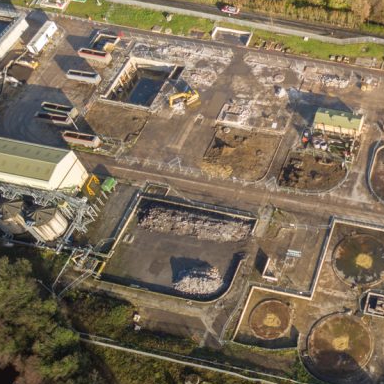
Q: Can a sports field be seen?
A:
No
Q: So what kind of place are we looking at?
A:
industrial area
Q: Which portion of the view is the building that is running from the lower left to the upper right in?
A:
top left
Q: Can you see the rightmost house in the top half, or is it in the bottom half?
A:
top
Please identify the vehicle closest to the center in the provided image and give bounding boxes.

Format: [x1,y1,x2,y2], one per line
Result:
[166,90,202,109]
